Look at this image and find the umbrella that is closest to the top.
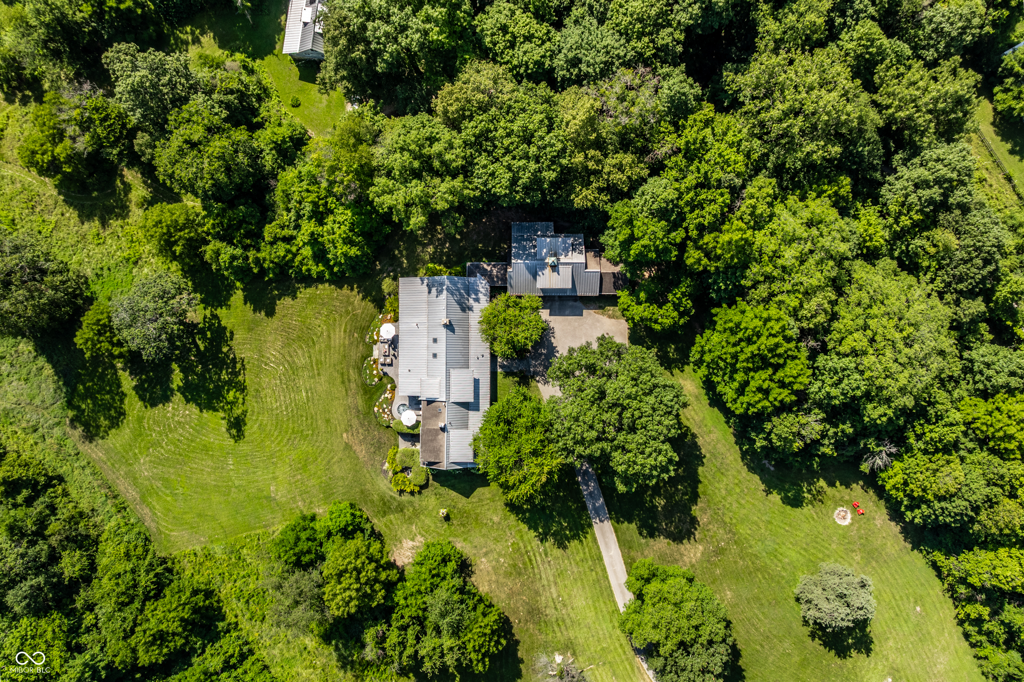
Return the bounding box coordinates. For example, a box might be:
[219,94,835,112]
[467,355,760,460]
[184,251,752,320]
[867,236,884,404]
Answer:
[381,324,395,338]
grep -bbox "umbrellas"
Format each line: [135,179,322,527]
[381,324,395,338]
[402,411,416,425]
